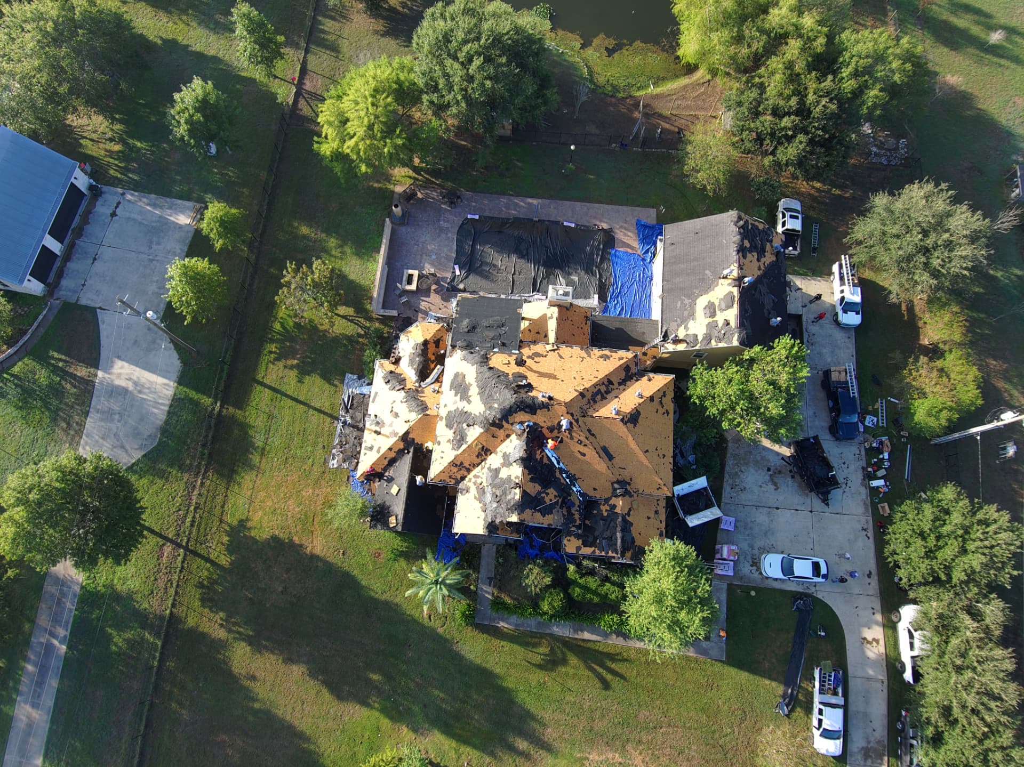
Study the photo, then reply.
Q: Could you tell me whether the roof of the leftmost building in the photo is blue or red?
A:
blue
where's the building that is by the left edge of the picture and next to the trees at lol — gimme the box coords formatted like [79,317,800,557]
[0,137,90,299]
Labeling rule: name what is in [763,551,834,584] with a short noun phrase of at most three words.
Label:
car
